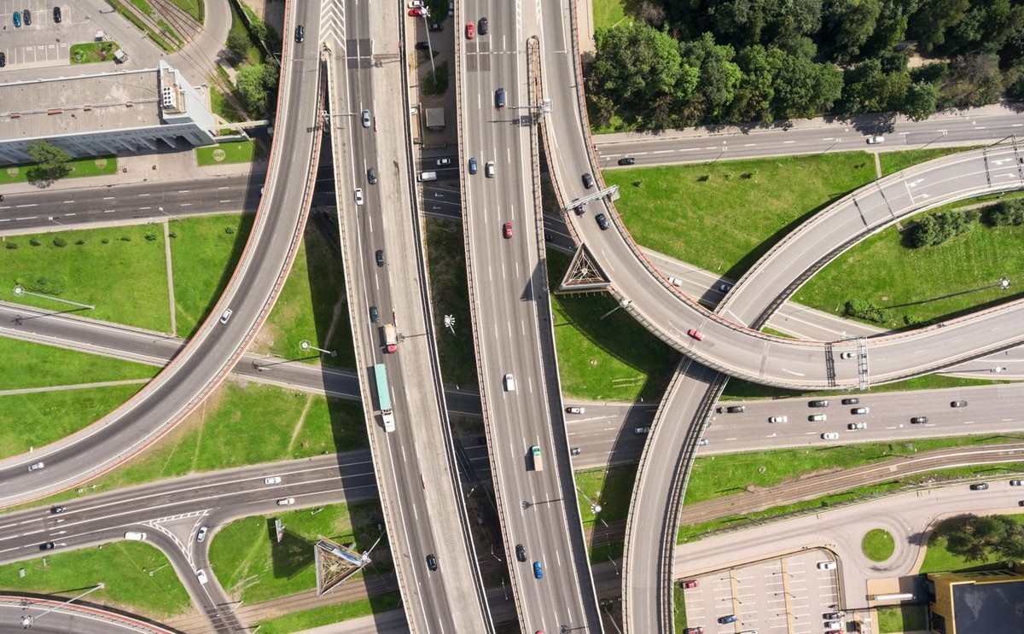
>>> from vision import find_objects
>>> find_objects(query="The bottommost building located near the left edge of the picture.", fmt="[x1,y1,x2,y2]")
[0,58,223,173]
